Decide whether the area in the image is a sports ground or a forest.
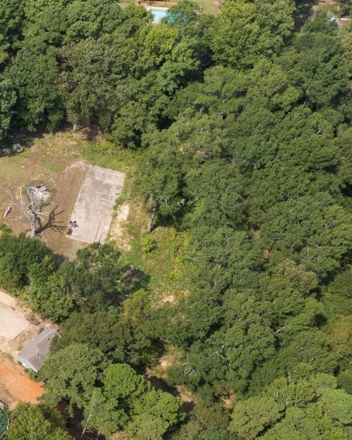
forest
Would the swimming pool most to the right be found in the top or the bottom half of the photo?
top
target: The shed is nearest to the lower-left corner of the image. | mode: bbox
[17,327,59,377]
